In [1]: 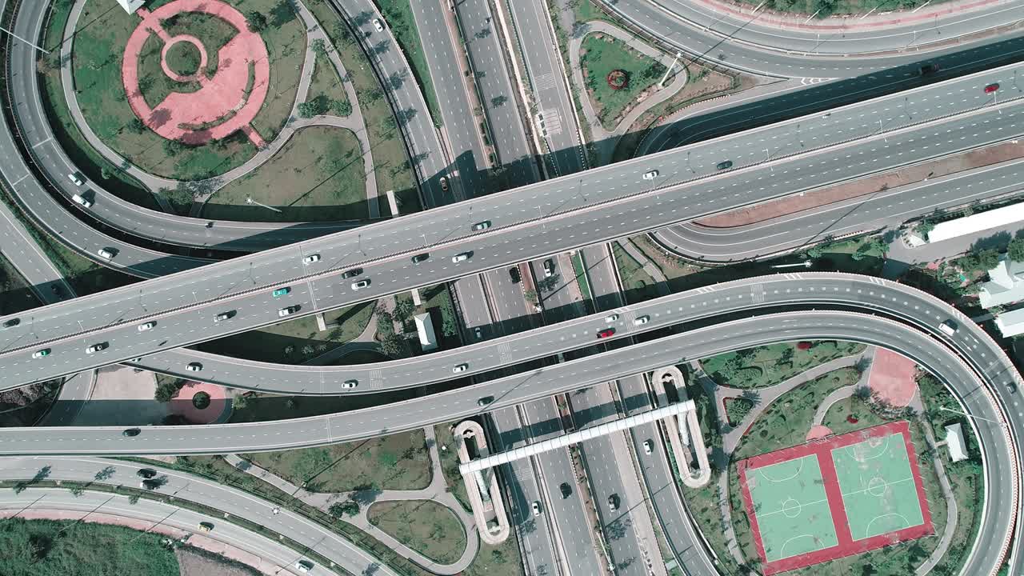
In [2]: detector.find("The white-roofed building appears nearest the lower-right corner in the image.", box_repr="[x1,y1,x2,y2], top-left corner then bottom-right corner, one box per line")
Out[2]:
[940,423,968,461]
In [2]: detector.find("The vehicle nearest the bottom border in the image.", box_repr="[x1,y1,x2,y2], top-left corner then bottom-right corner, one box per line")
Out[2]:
[296,559,311,573]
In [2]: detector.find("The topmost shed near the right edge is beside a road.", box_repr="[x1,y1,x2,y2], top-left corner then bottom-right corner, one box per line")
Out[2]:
[923,202,1024,244]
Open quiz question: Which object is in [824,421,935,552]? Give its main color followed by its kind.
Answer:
green sports court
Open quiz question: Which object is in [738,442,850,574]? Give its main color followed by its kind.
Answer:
green sports court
